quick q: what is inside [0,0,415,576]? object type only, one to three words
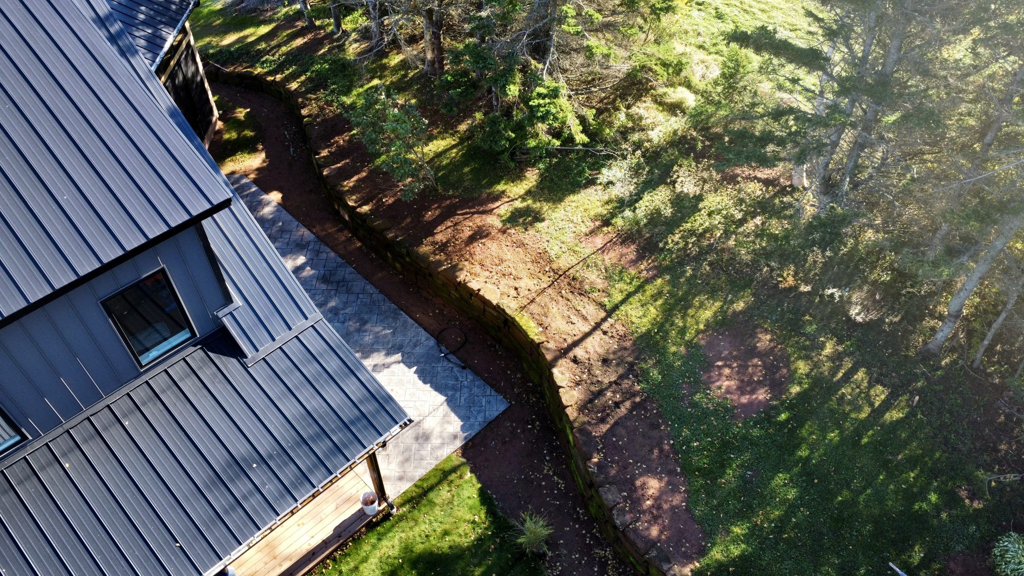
house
